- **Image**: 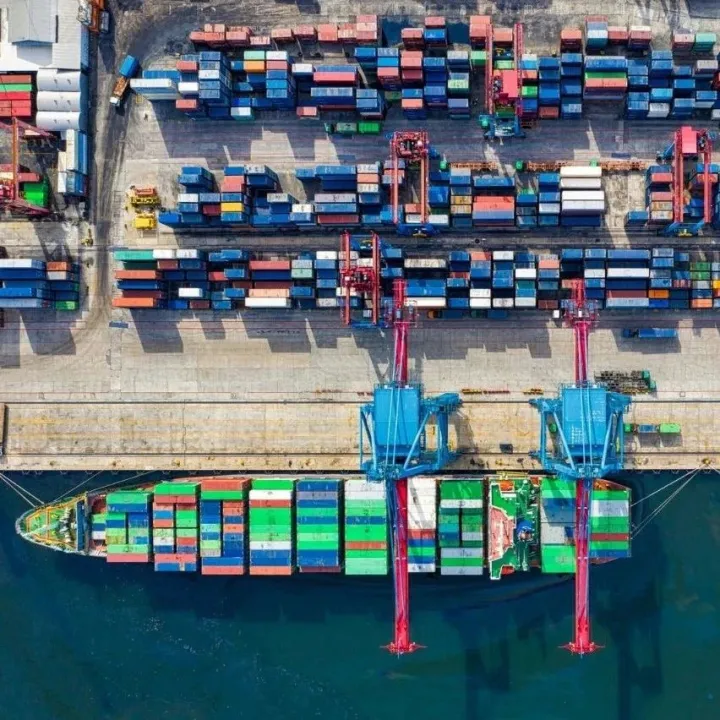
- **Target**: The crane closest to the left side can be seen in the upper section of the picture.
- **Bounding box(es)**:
[0,116,64,229]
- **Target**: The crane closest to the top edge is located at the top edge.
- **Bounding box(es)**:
[484,25,529,143]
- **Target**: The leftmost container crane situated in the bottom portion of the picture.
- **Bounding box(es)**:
[361,284,477,658]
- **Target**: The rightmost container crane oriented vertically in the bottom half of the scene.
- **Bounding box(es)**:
[530,283,635,658]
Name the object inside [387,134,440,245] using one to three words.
crane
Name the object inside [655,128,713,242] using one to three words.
crane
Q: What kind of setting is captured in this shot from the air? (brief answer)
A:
port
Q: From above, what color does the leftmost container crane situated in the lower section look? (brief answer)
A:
blue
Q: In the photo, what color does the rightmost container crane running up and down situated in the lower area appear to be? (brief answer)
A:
blue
